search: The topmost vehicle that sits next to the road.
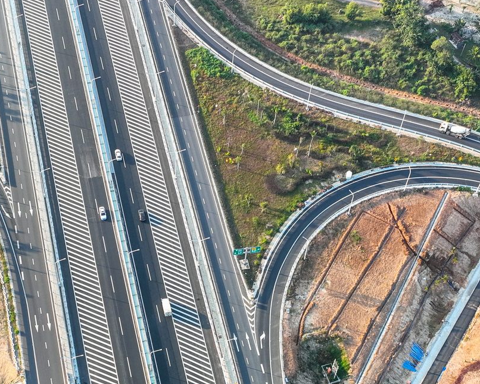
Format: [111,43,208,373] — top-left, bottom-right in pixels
[440,118,470,137]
